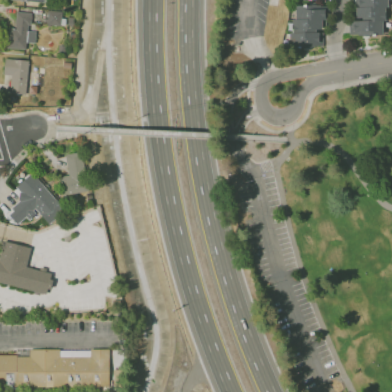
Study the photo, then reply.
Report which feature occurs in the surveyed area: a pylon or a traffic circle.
traffic circle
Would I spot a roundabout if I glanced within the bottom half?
No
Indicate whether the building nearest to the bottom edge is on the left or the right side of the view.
left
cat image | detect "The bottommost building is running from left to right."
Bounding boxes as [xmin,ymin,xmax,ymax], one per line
[0,348,110,386]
